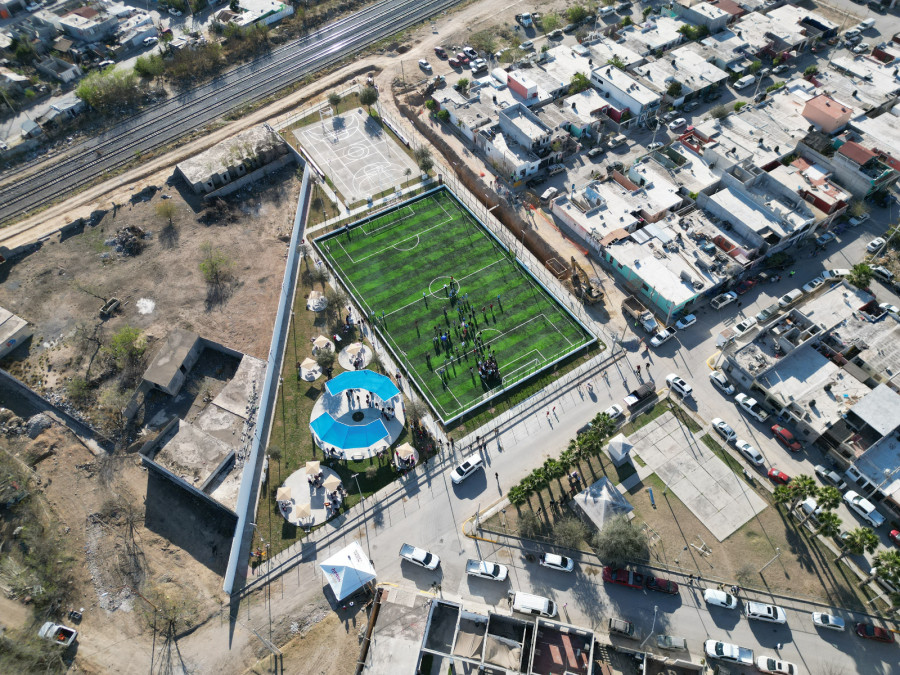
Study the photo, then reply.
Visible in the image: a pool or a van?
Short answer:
van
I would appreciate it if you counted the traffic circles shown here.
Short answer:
0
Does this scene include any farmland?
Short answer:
No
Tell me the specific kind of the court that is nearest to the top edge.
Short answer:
basketball court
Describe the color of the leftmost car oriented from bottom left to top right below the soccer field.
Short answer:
white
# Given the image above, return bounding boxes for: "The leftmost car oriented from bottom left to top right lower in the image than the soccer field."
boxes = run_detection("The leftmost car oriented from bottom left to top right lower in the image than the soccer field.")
[448,451,486,483]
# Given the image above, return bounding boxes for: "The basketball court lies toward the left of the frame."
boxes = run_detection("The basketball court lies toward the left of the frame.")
[293,107,421,202]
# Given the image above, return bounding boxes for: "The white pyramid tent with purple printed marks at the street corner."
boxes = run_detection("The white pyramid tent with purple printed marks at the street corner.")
[320,541,377,605]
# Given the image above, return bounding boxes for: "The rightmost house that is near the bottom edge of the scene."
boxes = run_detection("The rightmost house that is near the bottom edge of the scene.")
[529,615,594,675]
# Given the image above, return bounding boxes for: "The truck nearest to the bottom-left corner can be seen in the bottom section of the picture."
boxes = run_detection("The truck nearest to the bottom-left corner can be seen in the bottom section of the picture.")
[36,621,80,645]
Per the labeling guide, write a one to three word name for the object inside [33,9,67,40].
house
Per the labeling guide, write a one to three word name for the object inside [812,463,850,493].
truck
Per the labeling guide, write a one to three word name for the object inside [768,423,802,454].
car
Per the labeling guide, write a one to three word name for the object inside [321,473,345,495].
umbrella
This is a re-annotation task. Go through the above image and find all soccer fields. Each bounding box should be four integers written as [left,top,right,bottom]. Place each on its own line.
[314,185,597,428]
